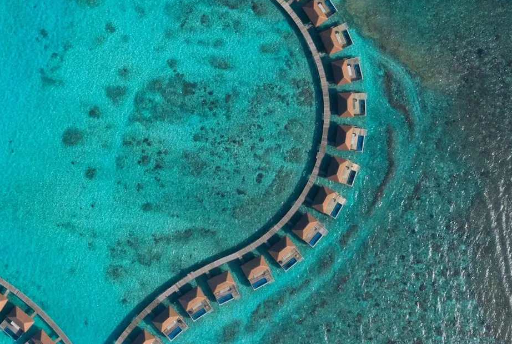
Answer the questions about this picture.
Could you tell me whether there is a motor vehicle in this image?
No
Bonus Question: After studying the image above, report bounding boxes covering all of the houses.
[318,22,355,55]
[335,91,368,117]
[300,0,338,27]
[178,285,214,322]
[267,235,304,272]
[240,255,274,292]
[324,155,361,187]
[24,328,56,344]
[334,125,368,152]
[329,55,363,86]
[206,270,240,307]
[0,305,34,343]
[290,213,328,249]
[129,328,163,344]
[310,186,347,219]
[152,305,189,343]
